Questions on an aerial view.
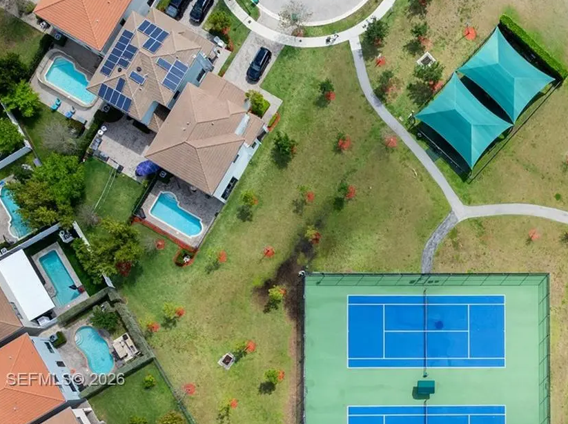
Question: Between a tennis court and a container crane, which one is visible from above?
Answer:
tennis court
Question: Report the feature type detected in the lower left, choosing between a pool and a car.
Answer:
pool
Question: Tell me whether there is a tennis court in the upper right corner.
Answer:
No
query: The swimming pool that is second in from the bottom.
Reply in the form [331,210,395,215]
[36,247,84,309]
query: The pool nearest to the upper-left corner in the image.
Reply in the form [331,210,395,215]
[40,51,102,110]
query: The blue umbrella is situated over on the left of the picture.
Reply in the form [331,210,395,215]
[136,158,157,179]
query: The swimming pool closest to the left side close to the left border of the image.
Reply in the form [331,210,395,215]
[0,183,28,238]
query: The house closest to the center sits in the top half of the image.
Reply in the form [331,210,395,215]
[144,72,266,201]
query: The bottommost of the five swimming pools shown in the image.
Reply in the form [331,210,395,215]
[73,324,115,377]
